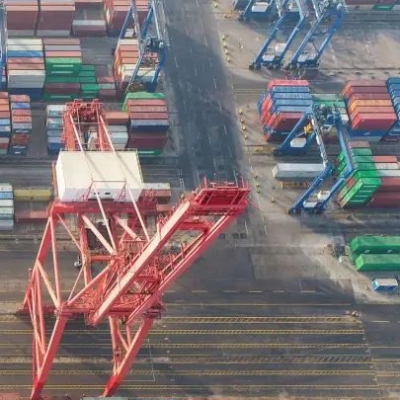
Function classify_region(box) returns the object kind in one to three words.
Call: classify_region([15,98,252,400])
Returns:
container crane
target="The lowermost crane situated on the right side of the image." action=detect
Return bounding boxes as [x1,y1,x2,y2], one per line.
[271,104,356,213]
